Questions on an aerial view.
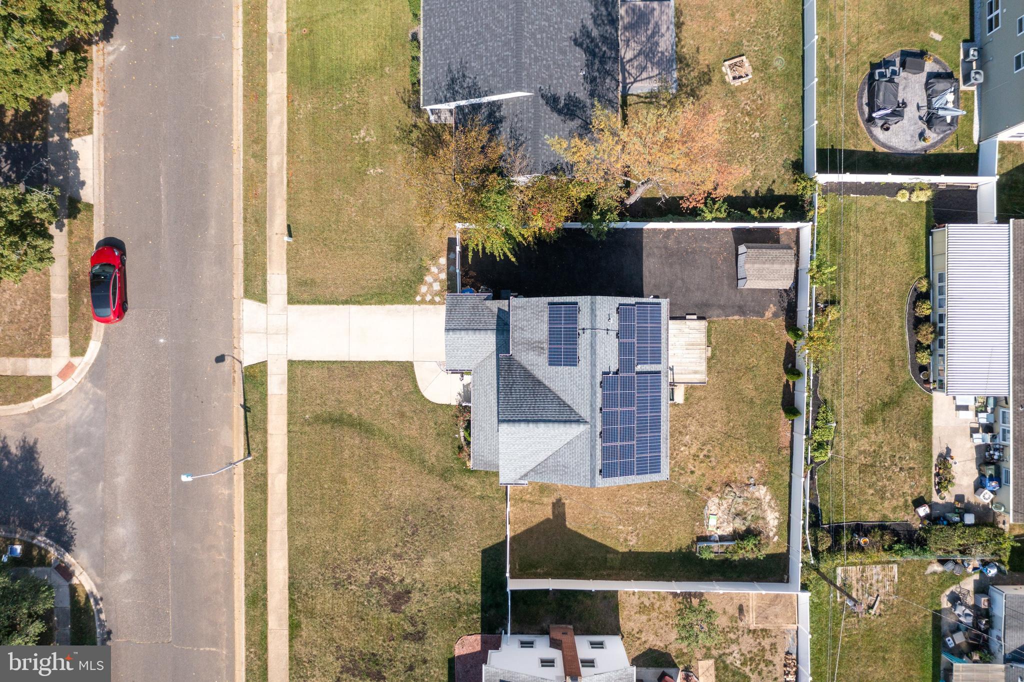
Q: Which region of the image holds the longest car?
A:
left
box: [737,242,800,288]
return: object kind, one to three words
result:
shed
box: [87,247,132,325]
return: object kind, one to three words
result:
car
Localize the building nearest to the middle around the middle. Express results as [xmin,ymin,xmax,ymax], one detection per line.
[444,292,671,488]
